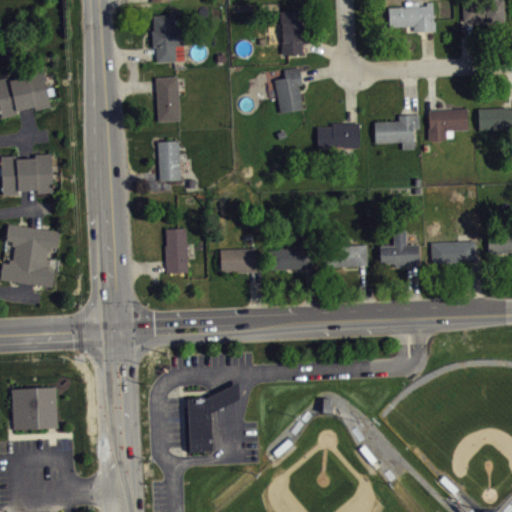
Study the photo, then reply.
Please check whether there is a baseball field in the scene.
Yes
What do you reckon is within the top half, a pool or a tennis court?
pool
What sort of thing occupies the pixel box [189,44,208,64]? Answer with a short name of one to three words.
swimming pool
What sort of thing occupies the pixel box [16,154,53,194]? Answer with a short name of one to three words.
house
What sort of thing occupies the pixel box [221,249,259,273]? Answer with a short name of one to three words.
house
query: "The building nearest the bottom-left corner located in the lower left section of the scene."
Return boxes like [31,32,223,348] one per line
[12,388,58,431]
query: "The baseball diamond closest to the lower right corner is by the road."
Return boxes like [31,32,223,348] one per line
[384,366,512,510]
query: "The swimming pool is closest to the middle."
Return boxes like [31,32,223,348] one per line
[236,94,254,116]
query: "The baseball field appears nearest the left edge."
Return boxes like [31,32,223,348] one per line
[262,430,384,512]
